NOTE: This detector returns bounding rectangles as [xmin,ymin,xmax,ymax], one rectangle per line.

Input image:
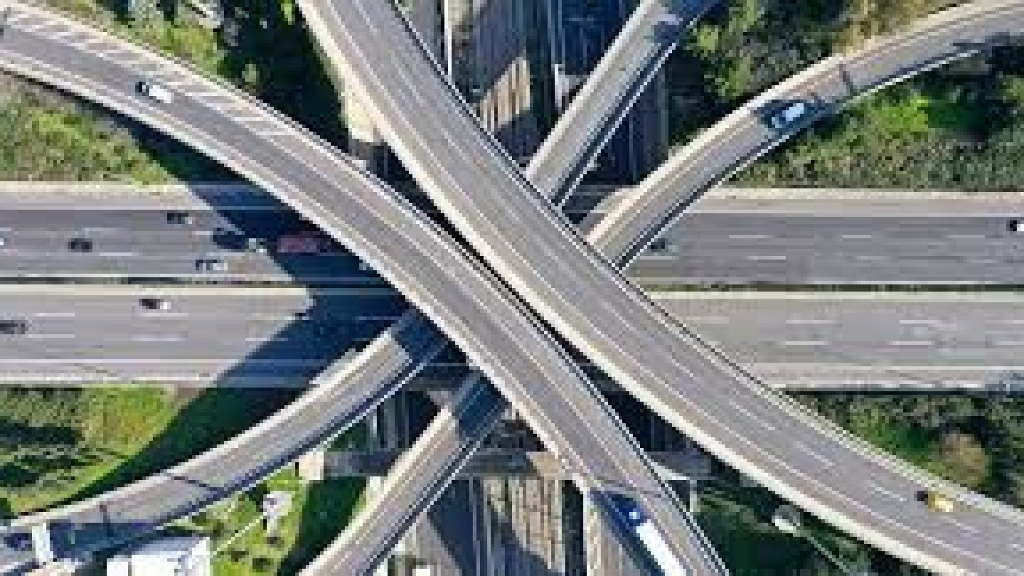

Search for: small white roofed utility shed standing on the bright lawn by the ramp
[264,498,285,516]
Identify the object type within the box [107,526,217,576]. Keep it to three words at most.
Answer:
building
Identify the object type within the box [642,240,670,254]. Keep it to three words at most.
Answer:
car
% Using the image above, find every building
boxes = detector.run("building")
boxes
[27,560,90,576]
[264,498,285,516]
[107,526,217,576]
